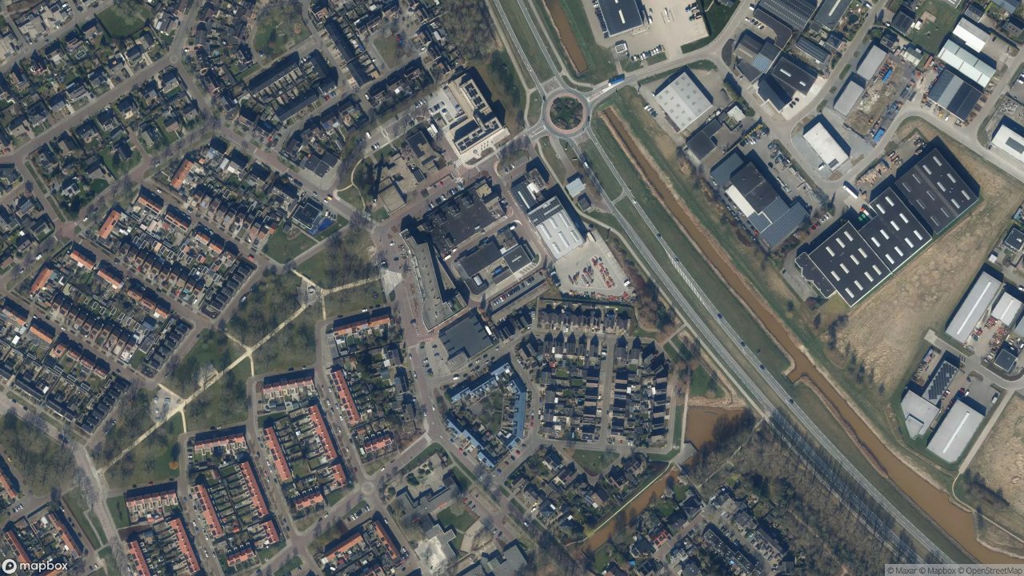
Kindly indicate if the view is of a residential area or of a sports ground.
residential area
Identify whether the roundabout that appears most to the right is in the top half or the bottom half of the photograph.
top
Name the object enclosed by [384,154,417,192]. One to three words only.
house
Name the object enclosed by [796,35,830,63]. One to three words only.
barn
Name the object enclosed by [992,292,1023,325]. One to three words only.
building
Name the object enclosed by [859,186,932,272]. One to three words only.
building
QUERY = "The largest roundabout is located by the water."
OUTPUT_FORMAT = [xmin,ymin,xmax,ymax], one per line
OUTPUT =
[541,87,591,137]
